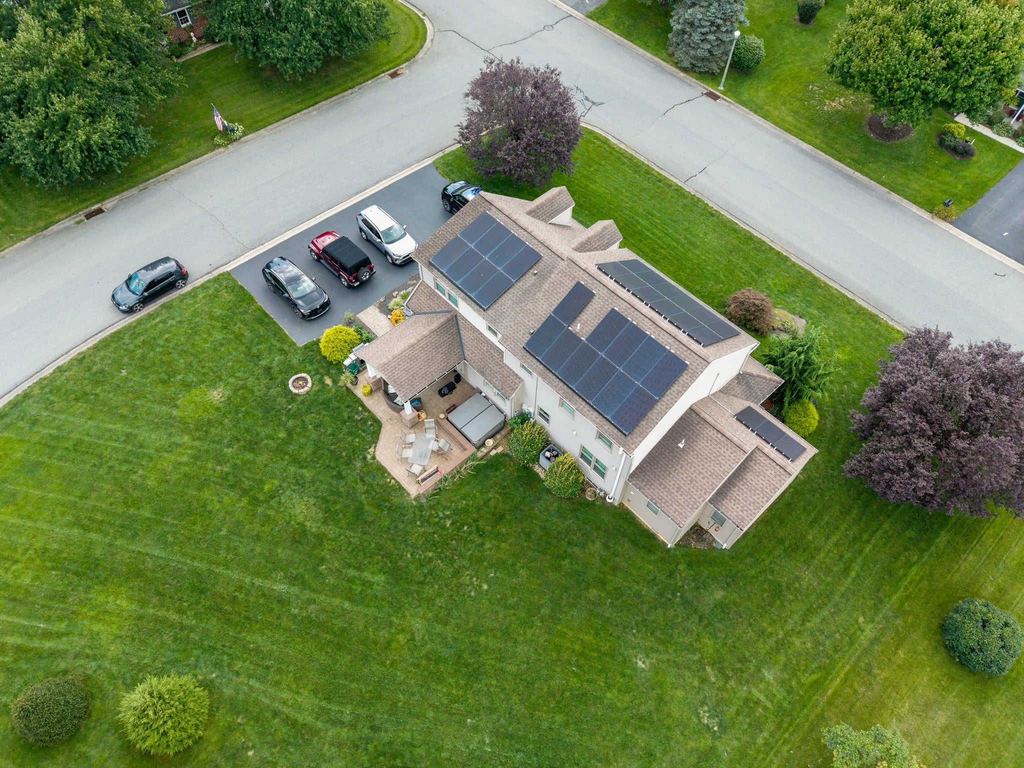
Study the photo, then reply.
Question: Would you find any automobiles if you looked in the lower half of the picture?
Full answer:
No, I see no automobile in the lower half of the picture.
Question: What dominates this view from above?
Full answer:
The bulk of the photo consists of grass.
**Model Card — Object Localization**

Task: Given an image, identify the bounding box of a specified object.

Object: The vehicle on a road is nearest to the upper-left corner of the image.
[110,256,191,314]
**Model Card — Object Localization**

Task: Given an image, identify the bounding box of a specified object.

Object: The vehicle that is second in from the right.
[355,205,420,266]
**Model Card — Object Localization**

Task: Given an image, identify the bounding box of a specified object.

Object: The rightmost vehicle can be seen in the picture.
[440,180,491,214]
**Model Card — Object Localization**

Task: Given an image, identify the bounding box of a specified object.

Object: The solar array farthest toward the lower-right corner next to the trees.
[734,405,806,461]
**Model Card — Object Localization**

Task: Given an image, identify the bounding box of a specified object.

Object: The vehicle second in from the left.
[260,258,332,322]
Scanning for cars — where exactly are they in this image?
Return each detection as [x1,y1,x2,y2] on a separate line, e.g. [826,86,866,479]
[307,230,378,289]
[355,205,420,266]
[110,256,191,314]
[260,258,332,322]
[440,180,491,214]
